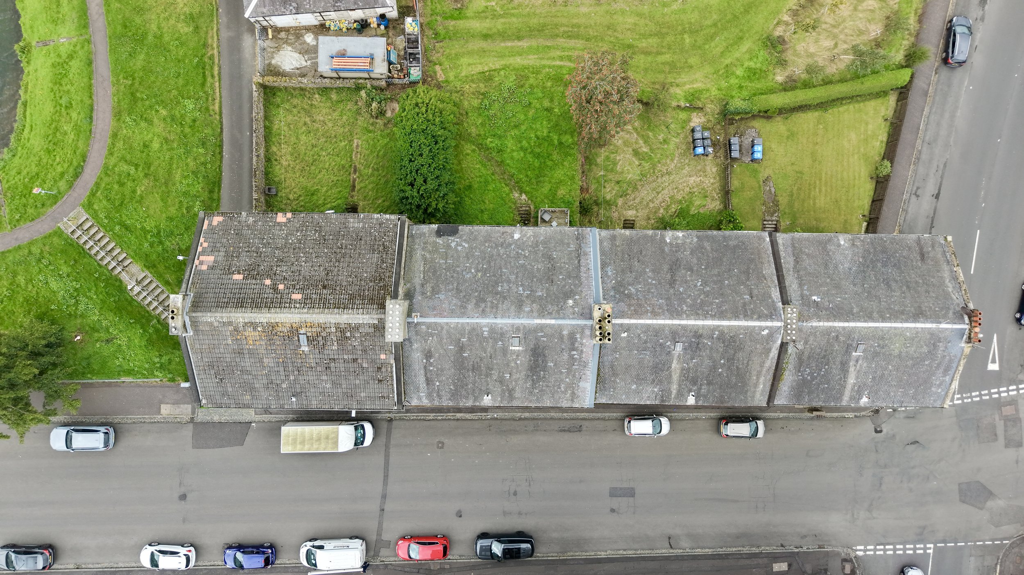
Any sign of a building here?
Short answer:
Yes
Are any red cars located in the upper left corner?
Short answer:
No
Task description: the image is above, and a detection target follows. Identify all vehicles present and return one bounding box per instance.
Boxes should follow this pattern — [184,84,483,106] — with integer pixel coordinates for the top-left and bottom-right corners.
[624,414,670,441]
[718,416,765,443]
[51,424,118,455]
[475,532,535,570]
[224,543,278,575]
[0,544,59,575]
[282,418,374,453]
[396,535,450,567]
[141,543,198,575]
[301,535,367,574]
[943,12,984,68]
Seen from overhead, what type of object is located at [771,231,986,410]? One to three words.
house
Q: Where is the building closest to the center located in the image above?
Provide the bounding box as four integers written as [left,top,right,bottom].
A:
[396,222,611,410]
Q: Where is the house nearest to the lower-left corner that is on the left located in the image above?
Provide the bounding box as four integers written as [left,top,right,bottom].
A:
[172,210,413,411]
